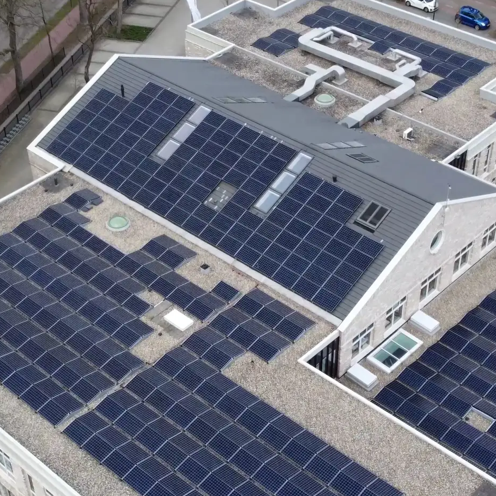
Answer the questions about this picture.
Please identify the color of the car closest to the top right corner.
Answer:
blue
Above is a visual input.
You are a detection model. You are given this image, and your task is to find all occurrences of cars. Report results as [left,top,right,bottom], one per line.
[408,0,440,10]
[459,5,494,29]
